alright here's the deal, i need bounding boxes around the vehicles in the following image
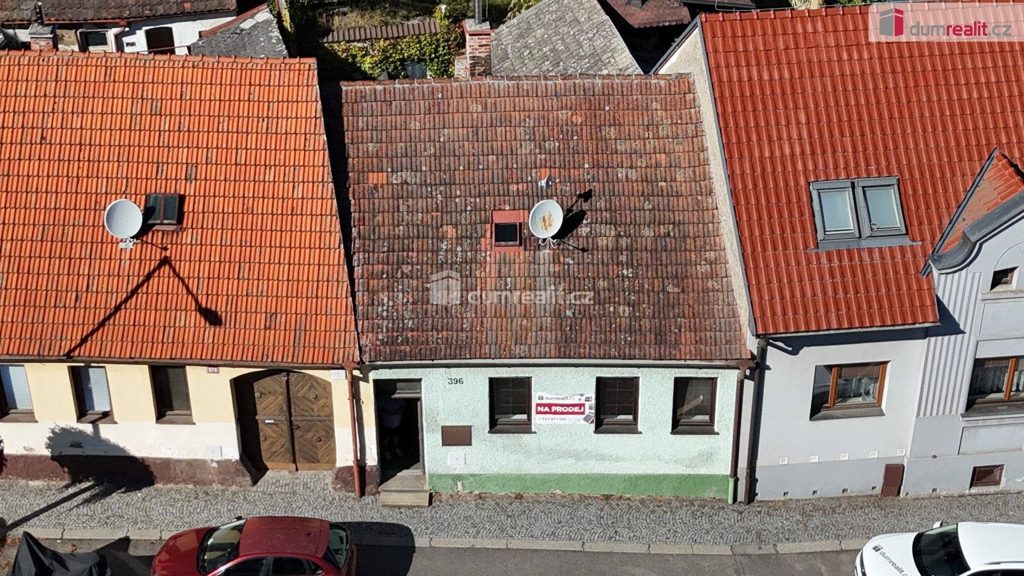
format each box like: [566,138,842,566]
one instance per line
[855,517,1024,576]
[149,514,361,576]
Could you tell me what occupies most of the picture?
buildings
